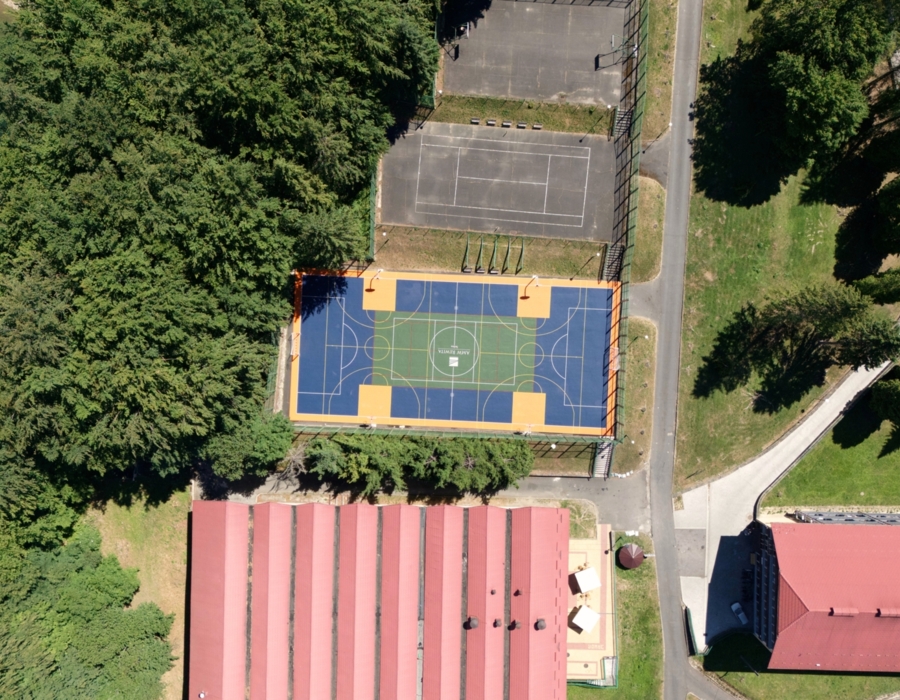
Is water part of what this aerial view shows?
No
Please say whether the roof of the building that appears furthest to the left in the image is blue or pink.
pink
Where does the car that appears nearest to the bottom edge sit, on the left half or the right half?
right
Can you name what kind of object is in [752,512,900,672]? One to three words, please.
building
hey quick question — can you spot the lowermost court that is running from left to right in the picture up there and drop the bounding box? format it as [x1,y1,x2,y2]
[290,272,621,437]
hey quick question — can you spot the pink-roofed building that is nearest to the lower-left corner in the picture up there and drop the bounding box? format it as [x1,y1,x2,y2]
[189,500,570,700]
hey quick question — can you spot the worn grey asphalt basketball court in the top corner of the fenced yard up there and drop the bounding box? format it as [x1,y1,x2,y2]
[444,0,626,106]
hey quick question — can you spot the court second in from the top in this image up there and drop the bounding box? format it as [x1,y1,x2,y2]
[379,120,616,241]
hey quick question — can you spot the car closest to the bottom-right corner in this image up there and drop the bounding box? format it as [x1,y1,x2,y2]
[729,601,751,629]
